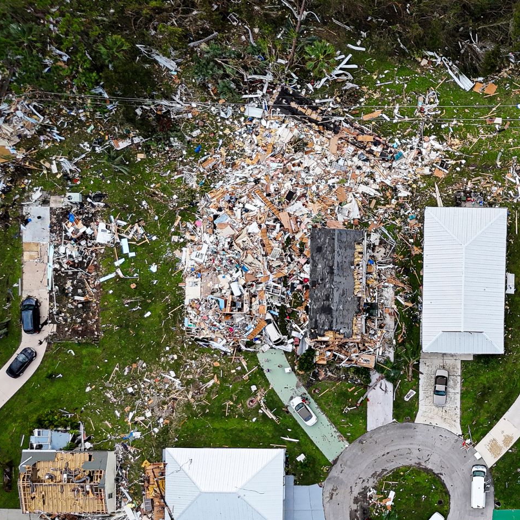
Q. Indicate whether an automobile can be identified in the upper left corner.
No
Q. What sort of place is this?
residential area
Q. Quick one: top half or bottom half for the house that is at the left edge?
bottom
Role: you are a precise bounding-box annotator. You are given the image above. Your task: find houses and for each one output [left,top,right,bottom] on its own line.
[164,445,288,520]
[310,229,366,357]
[421,206,508,355]
[18,450,117,516]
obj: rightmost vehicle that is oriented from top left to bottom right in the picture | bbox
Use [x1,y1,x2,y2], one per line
[288,395,316,429]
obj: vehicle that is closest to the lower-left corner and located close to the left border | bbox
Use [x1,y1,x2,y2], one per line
[3,346,34,381]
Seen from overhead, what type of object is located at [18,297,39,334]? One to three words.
car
